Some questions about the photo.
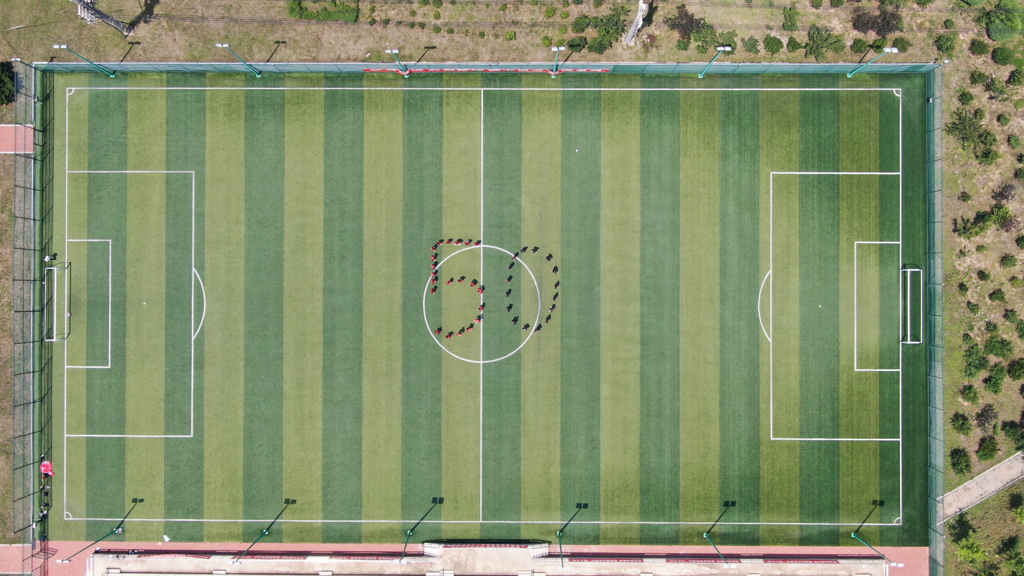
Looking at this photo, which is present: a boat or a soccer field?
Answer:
soccer field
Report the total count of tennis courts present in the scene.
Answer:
0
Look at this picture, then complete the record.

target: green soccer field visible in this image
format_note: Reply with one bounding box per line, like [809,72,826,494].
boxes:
[31,64,933,547]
